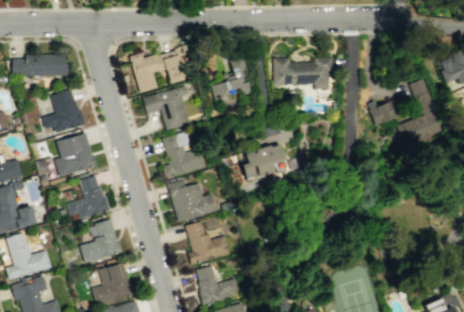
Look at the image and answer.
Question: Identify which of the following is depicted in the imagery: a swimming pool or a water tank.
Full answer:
This aerial view contains a swimming pool.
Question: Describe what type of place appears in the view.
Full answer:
This image shows a residential area.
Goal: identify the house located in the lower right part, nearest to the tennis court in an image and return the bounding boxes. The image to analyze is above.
[426,295,462,312]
